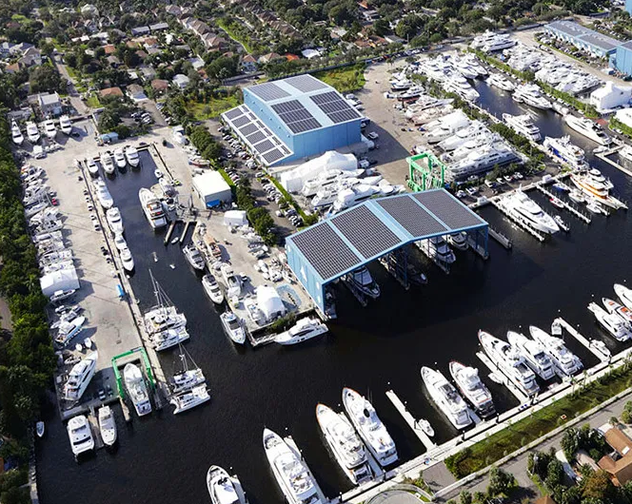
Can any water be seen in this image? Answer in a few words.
Yes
